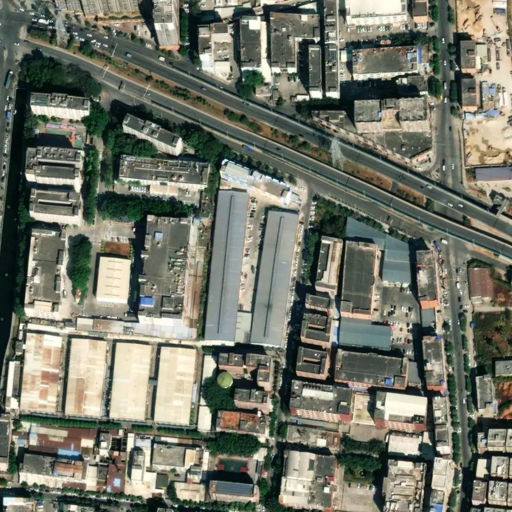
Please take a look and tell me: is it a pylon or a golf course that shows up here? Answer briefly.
pylon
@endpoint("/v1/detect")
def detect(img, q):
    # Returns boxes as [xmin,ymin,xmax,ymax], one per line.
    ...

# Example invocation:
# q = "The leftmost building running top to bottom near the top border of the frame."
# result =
[152,0,180,51]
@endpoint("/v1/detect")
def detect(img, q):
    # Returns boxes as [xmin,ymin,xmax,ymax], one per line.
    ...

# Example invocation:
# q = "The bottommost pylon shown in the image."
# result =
[327,140,344,172]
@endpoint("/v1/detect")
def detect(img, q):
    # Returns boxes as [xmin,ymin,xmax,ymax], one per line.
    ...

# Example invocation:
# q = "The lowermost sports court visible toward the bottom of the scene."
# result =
[213,456,252,484]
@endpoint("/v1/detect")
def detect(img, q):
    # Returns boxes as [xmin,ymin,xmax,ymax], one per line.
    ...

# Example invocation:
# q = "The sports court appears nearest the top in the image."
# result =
[44,122,84,150]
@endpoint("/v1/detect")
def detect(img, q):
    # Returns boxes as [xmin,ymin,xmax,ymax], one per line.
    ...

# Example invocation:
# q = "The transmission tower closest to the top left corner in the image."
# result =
[51,19,68,50]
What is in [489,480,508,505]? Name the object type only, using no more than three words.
house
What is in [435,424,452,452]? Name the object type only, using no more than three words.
house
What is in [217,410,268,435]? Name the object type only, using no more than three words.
building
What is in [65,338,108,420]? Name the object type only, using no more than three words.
building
